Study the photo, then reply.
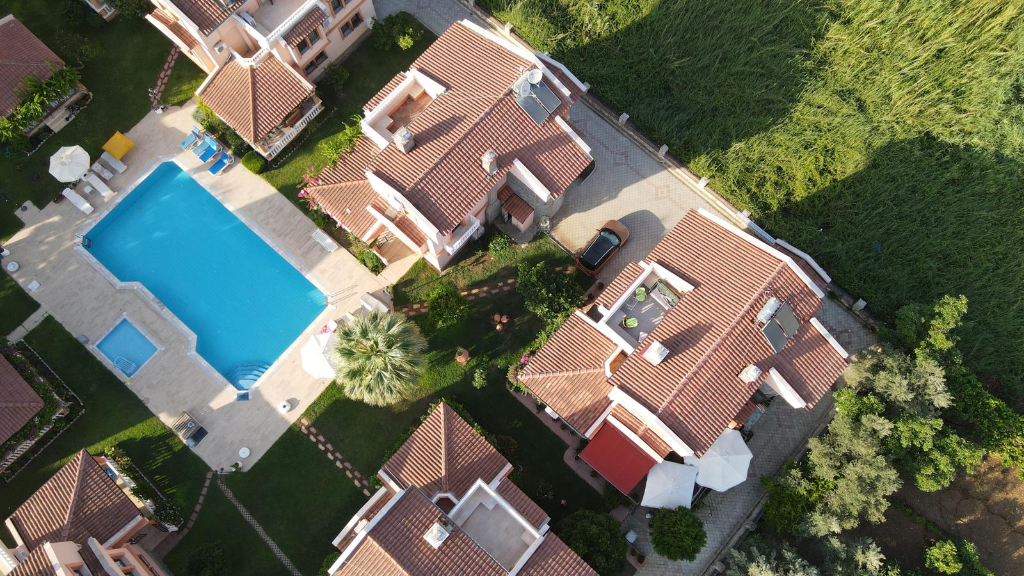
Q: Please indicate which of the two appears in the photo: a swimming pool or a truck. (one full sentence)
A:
The image shows a swimming pool.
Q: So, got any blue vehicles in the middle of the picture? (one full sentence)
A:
No, no blue vehicle is visible in the middle of the picture.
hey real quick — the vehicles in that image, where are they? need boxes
[571,217,636,275]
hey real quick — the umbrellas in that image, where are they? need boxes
[301,332,348,378]
[681,424,758,498]
[103,132,143,165]
[51,147,94,186]
[642,467,694,510]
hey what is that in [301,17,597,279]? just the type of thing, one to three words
house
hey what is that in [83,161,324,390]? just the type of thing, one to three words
swimming pool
